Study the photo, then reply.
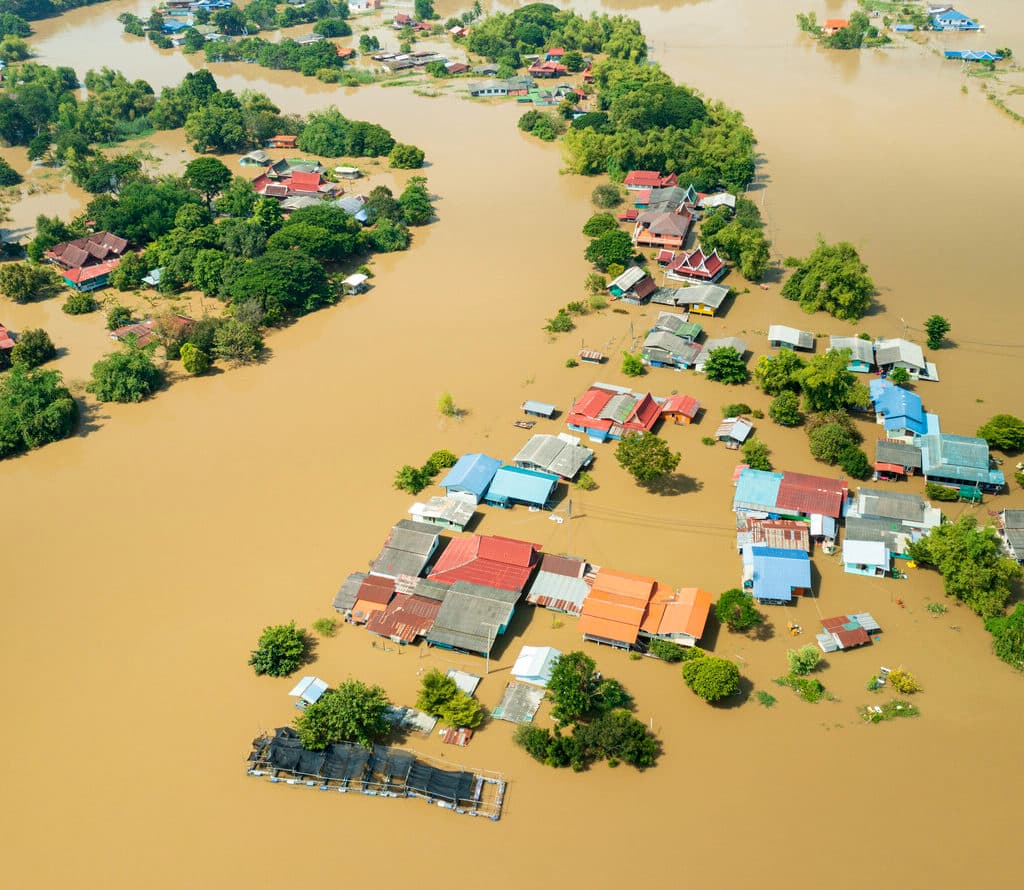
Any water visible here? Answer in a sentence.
Yes, water shows up in the scene.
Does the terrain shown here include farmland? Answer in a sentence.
No, the scene doesn't show any farmland.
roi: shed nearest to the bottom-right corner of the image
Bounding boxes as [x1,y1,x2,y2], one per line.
[816,613,880,654]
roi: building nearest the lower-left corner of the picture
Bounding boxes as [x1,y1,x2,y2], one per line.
[288,676,329,710]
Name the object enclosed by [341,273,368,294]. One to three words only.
building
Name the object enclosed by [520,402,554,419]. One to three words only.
shed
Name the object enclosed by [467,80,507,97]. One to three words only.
house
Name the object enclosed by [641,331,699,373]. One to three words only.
house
